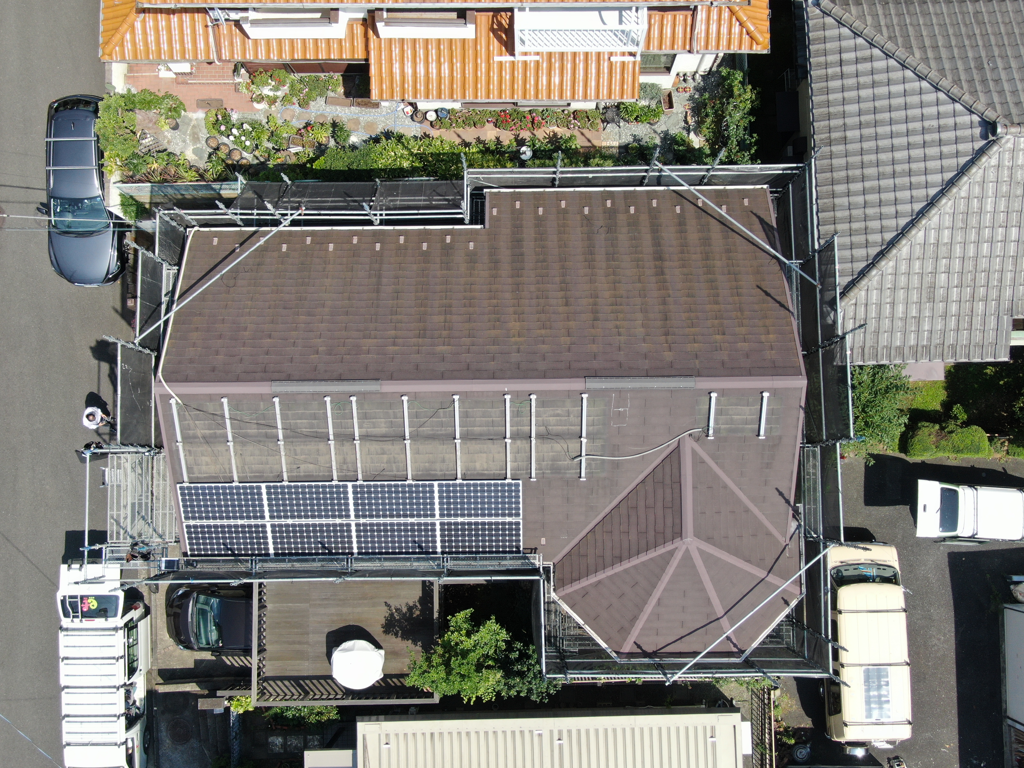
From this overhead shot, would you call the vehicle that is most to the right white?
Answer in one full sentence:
Yes, the vehicle that is most to the right is white.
